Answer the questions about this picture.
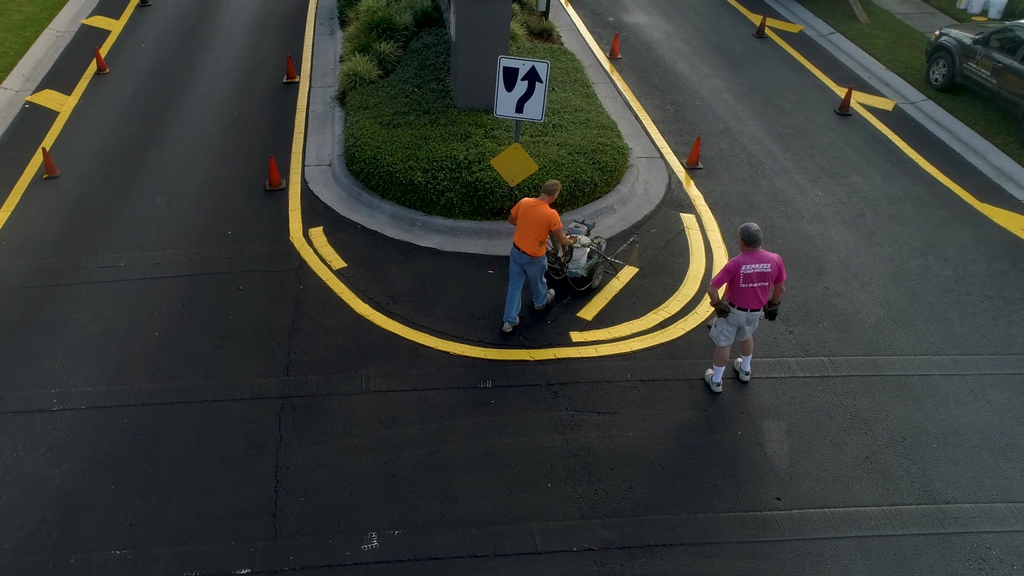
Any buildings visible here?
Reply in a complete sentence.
No, no building can be seen from above.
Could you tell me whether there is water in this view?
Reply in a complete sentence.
No, there's no water in this view.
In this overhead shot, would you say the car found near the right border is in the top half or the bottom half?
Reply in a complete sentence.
The car found near the right border is in the top half of the image.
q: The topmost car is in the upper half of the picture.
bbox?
[915,14,1024,121]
